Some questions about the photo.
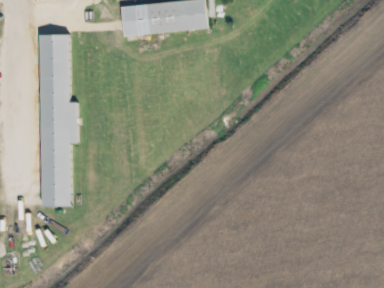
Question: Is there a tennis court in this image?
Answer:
No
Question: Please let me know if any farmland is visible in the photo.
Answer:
Yes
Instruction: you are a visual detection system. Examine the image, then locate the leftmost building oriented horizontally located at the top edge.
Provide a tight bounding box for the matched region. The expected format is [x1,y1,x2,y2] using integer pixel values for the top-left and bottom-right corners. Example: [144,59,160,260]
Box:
[121,0,210,36]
